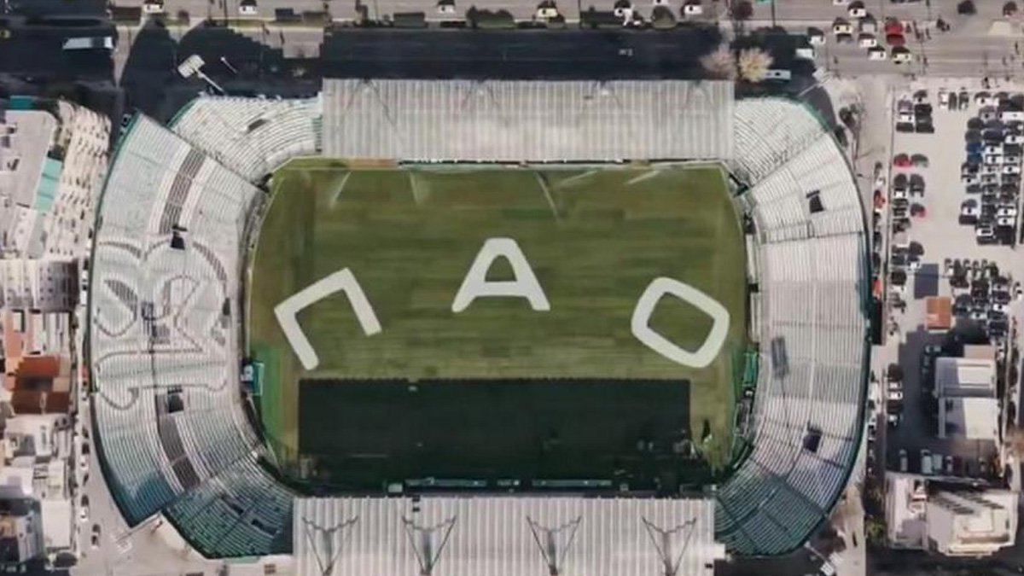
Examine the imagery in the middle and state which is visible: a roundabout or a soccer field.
soccer field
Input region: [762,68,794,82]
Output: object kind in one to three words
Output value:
vehicle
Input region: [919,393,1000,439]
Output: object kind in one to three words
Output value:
building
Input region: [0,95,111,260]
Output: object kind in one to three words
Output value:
building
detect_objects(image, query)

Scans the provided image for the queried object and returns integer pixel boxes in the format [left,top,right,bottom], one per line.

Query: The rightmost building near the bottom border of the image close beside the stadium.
[909,467,1017,557]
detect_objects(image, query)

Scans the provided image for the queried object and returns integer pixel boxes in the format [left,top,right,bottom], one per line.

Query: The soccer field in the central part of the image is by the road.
[248,159,751,492]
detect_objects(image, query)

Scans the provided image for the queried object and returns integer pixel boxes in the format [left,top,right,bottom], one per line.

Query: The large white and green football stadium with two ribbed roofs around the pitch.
[85,79,872,576]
